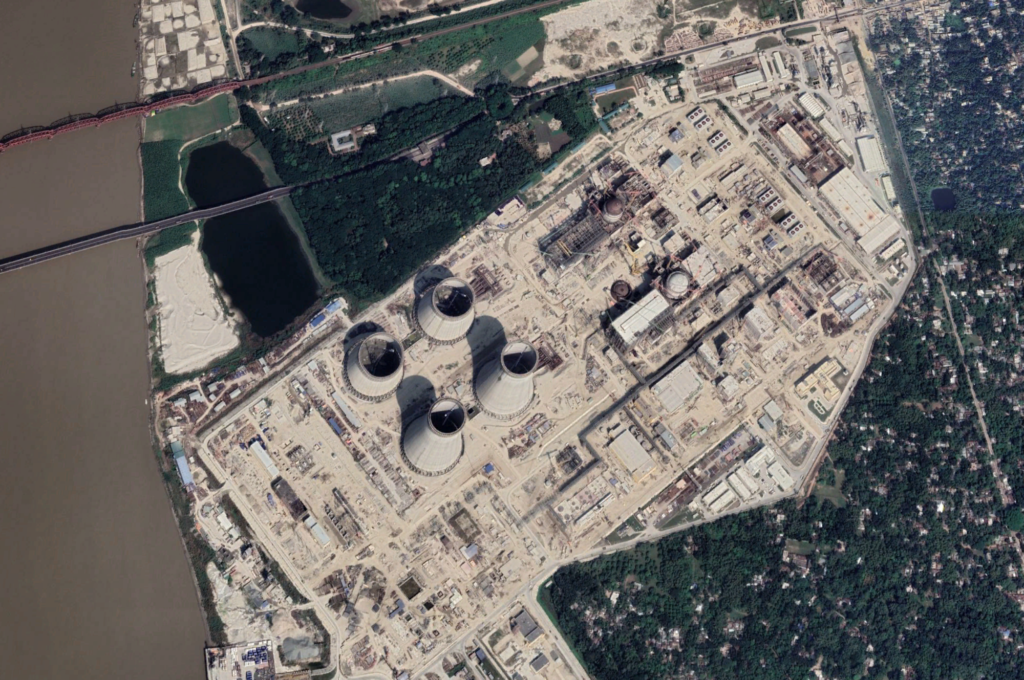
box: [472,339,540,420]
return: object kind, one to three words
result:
cooling tower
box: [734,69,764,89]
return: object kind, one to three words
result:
building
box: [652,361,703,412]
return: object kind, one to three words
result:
building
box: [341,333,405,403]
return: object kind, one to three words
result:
cooling tower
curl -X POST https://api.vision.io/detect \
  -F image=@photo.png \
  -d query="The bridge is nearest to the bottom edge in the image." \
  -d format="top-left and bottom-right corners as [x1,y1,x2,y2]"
[0,184,292,272]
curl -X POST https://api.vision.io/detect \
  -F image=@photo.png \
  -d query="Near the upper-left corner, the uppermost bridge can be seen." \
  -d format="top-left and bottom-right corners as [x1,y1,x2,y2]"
[0,81,242,151]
